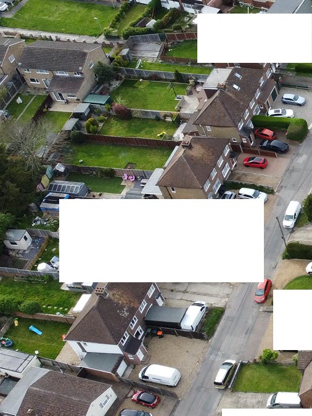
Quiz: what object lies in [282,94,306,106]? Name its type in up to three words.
vehicle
